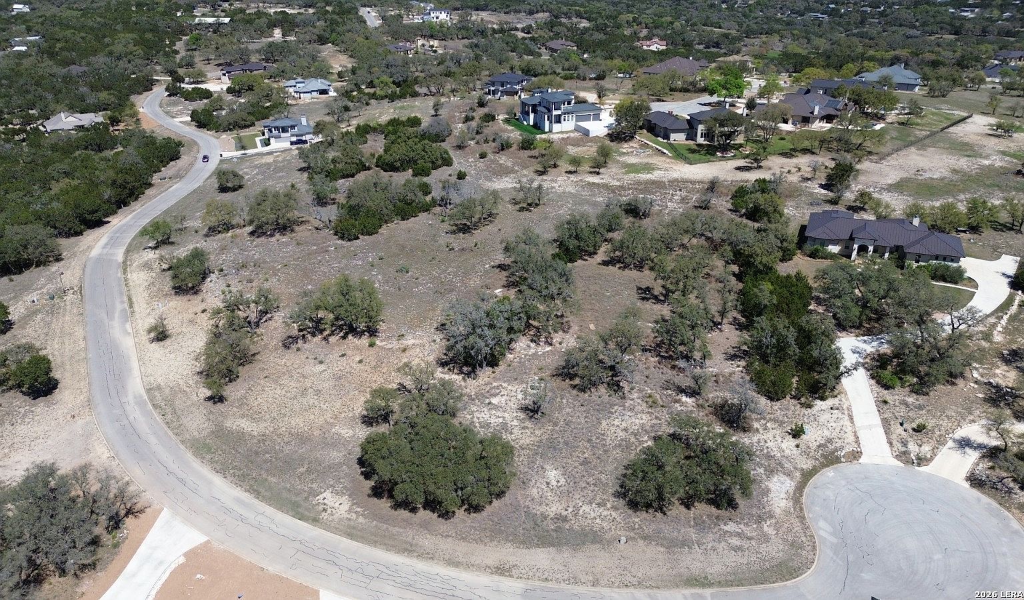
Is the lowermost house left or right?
right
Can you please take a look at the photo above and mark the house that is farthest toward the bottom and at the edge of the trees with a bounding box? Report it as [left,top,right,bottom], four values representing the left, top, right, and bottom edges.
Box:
[804,199,970,264]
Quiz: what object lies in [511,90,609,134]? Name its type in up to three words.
house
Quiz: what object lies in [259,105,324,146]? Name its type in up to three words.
house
